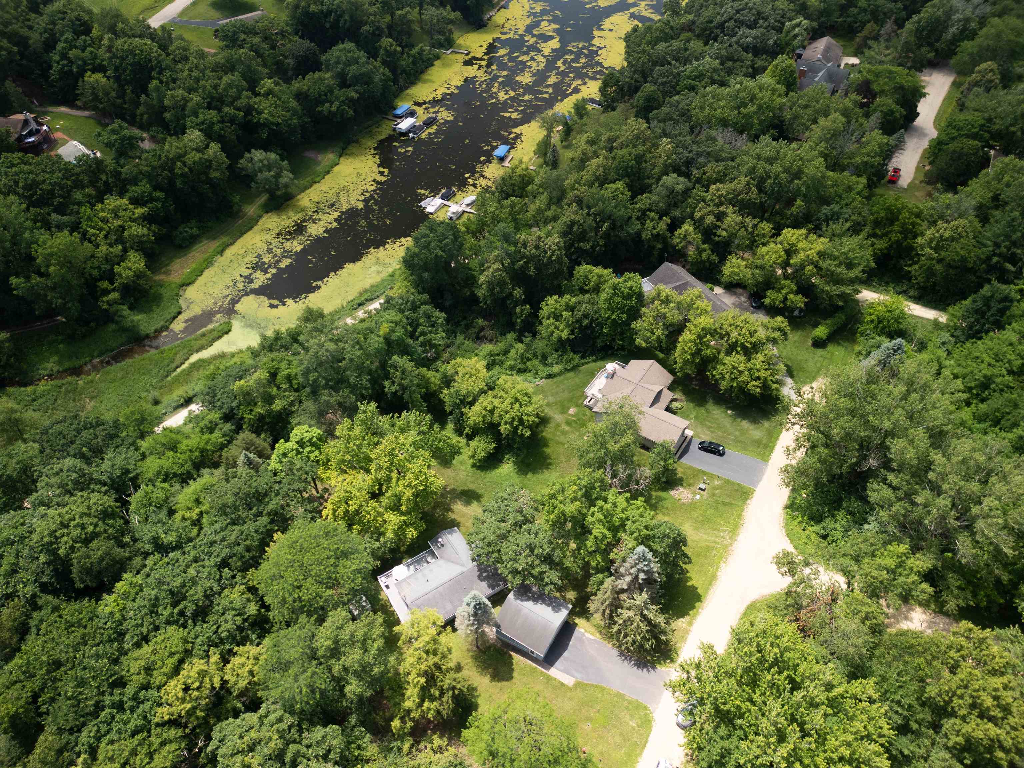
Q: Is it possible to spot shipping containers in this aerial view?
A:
No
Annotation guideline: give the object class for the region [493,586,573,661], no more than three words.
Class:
building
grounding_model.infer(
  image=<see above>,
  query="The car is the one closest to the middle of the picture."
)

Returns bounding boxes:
[698,442,726,458]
